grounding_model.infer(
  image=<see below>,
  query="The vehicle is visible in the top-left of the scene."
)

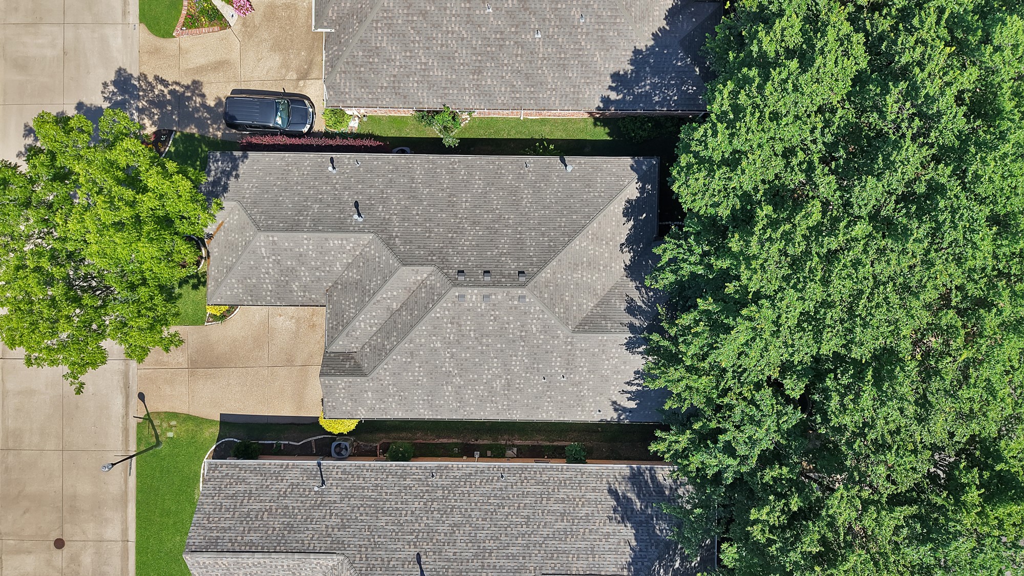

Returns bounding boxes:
[225,92,320,136]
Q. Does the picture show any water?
No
